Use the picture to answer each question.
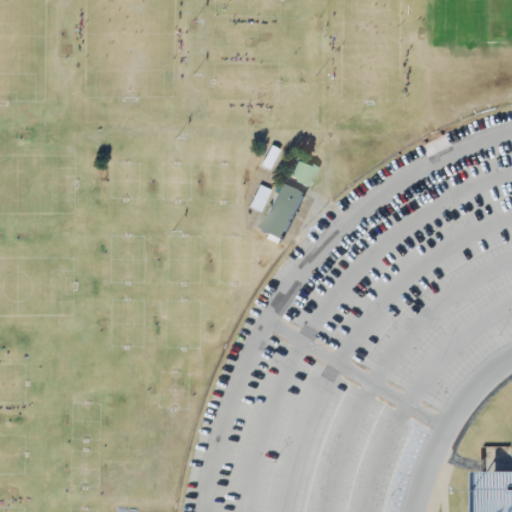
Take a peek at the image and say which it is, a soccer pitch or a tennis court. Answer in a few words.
soccer pitch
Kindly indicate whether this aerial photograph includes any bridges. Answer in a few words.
No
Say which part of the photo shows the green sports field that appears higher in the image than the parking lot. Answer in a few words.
top right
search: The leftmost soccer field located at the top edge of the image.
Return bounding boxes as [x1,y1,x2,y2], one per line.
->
[0,0,46,102]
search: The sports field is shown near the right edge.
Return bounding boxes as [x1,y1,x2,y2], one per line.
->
[430,0,512,50]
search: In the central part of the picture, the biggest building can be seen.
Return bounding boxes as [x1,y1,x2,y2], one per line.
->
[259,184,305,244]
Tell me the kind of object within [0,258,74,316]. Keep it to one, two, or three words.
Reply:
soccer field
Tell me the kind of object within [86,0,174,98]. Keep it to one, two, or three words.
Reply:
soccer field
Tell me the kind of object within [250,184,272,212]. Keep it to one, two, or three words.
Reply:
shed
